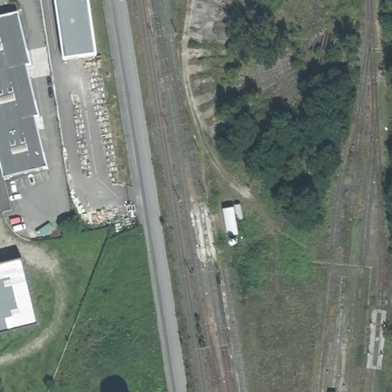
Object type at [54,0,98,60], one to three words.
building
